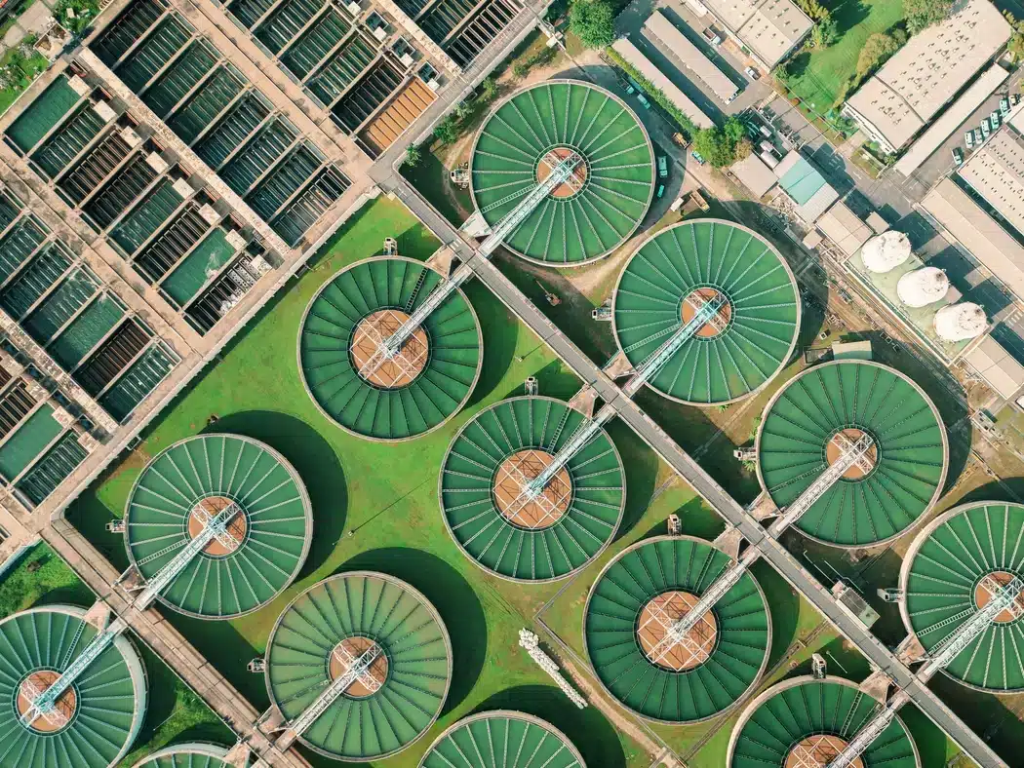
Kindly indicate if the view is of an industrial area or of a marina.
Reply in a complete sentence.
This looks like an industrial area.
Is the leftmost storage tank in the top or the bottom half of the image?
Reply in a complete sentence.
The leftmost storage tank sits in the bottom half of the picture.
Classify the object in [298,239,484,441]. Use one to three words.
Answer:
storage tank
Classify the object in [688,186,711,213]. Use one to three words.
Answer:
truck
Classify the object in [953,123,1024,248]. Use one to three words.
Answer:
building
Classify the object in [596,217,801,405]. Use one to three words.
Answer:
storage tank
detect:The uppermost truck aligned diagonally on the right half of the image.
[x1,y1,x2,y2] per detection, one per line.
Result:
[700,24,723,47]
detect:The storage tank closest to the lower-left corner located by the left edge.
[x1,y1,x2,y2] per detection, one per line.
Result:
[0,597,152,768]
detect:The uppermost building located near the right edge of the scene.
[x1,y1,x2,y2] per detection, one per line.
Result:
[847,0,1014,150]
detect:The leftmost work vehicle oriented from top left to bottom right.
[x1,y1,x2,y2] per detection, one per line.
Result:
[536,280,561,306]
